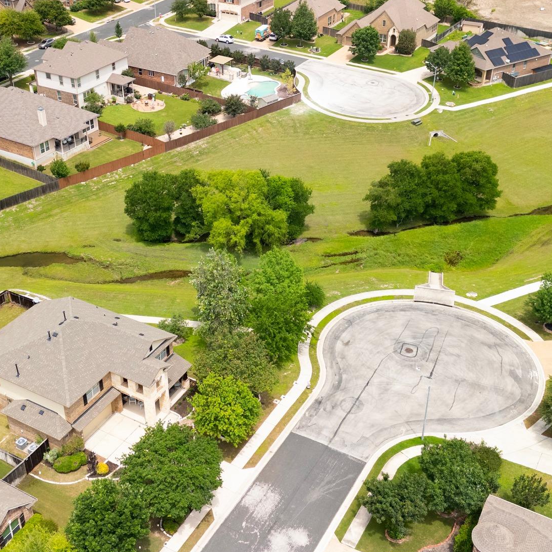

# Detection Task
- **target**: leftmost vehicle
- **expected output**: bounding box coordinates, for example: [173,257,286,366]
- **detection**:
[36,36,58,48]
